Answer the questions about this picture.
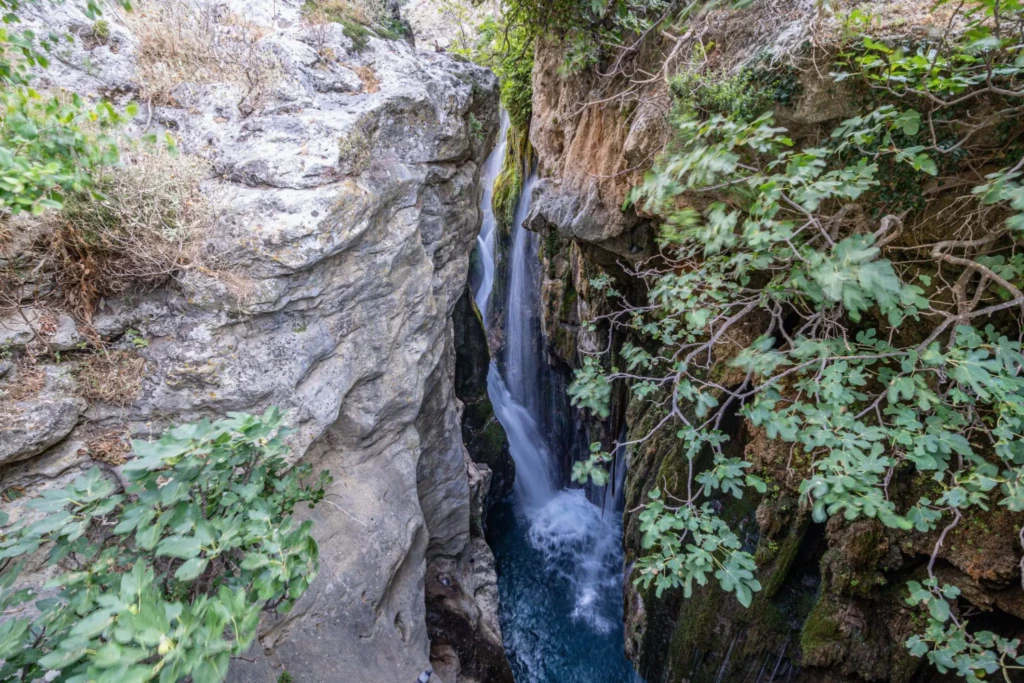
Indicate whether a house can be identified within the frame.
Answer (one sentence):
No, I can't see a single house in this photo.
